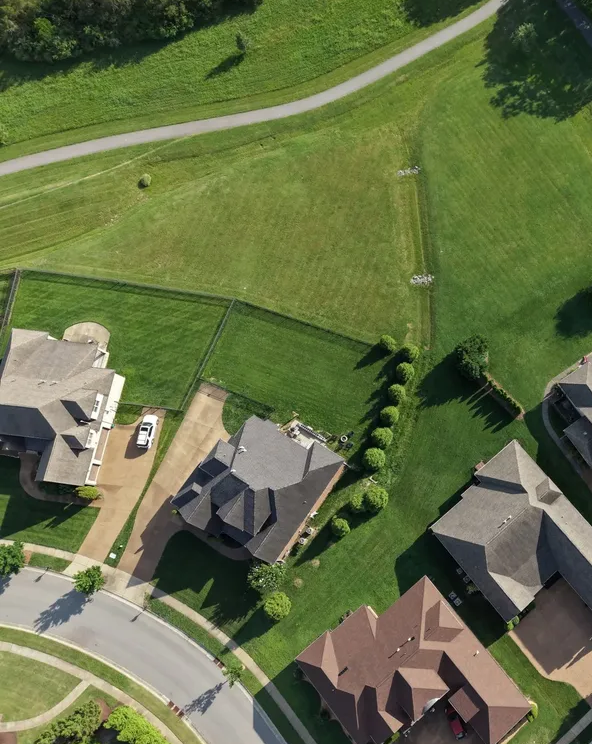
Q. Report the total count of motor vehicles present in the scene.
2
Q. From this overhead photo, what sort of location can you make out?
residential area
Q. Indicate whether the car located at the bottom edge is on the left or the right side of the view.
right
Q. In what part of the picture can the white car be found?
left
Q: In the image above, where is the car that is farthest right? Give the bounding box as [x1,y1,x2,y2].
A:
[442,703,468,742]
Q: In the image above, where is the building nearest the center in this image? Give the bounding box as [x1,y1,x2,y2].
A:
[170,415,346,563]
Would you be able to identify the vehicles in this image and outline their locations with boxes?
[442,703,468,742]
[136,415,159,451]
